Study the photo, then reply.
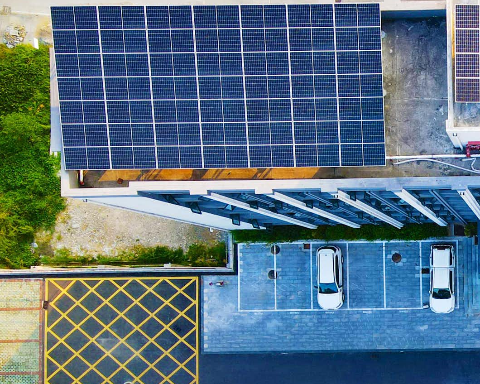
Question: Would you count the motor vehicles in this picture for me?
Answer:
2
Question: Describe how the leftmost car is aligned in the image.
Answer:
up and down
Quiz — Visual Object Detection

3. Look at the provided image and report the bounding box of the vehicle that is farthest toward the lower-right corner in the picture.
[427,244,457,315]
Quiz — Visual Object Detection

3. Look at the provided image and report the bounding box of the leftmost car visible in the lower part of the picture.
[315,245,346,310]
